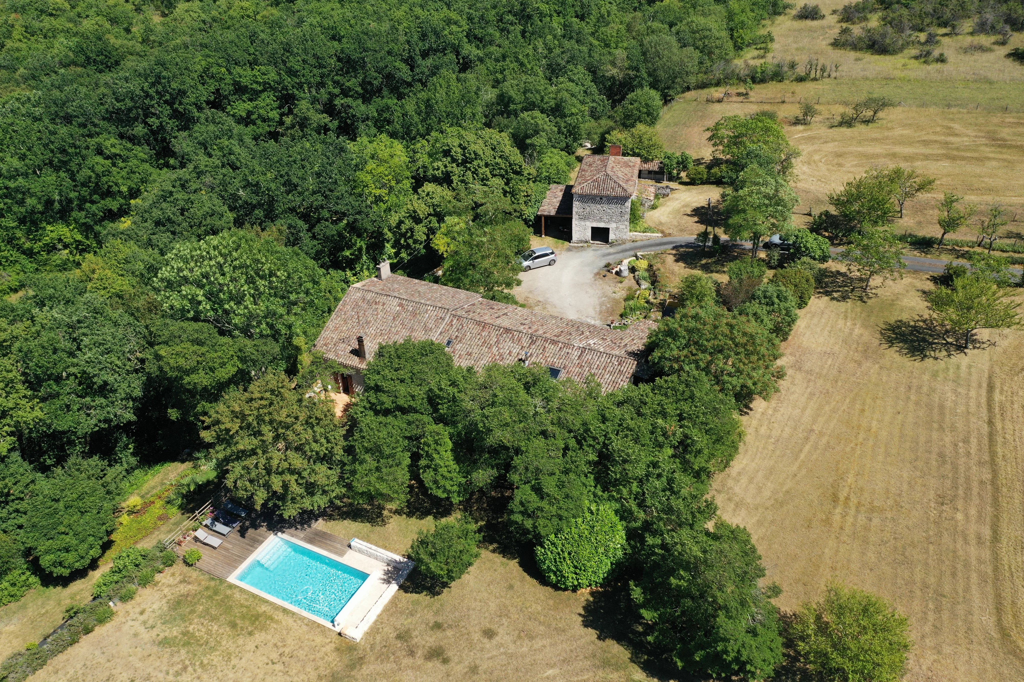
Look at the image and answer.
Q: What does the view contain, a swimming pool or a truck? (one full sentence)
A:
I can see a swimming pool in this picture.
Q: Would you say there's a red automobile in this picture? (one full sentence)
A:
No, the photo shows no red automobile.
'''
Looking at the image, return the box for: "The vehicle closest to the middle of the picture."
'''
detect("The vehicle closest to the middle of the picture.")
[517,246,557,271]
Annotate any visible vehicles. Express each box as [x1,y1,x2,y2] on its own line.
[768,231,792,248]
[517,246,557,271]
